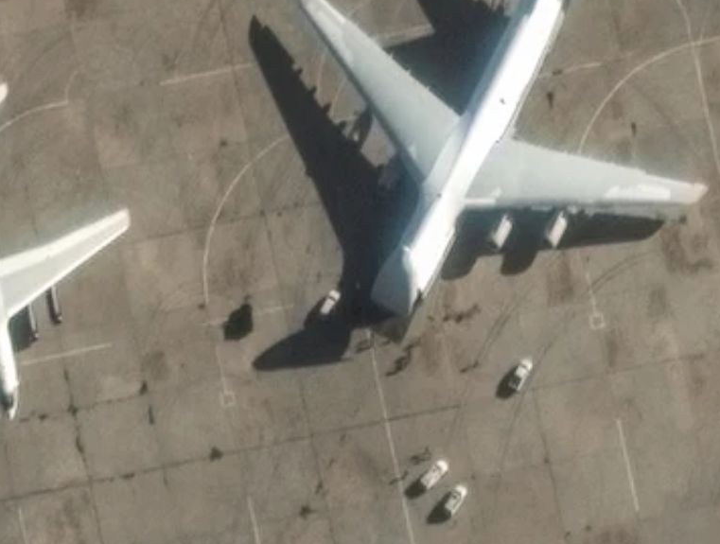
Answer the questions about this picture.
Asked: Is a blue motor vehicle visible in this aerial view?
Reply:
No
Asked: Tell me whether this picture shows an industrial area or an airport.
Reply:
airport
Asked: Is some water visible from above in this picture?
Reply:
No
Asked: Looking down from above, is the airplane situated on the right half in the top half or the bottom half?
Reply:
top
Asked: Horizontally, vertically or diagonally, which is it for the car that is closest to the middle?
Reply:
diagonally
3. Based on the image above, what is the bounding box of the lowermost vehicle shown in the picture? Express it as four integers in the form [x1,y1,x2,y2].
[442,487,467,517]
